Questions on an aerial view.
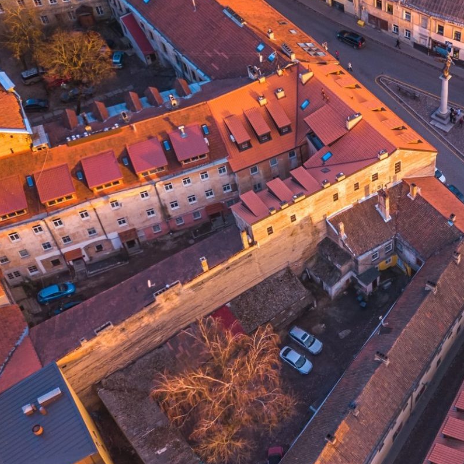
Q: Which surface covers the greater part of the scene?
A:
buildings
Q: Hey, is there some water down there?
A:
No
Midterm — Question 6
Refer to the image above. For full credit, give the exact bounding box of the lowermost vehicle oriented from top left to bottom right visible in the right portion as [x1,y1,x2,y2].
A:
[279,347,313,375]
